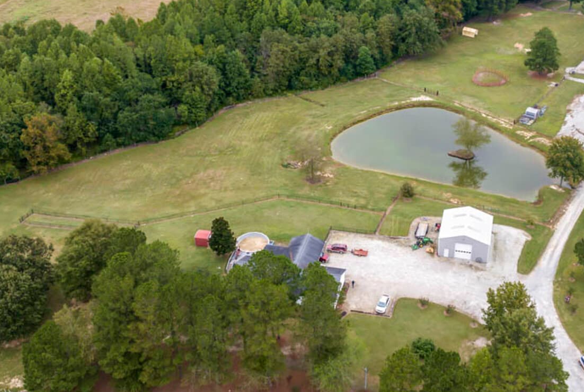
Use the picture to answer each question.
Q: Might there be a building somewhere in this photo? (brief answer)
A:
Yes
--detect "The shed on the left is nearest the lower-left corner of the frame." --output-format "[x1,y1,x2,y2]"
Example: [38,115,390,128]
[193,228,215,246]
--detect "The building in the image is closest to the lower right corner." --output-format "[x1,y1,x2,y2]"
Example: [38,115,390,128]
[438,200,496,266]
